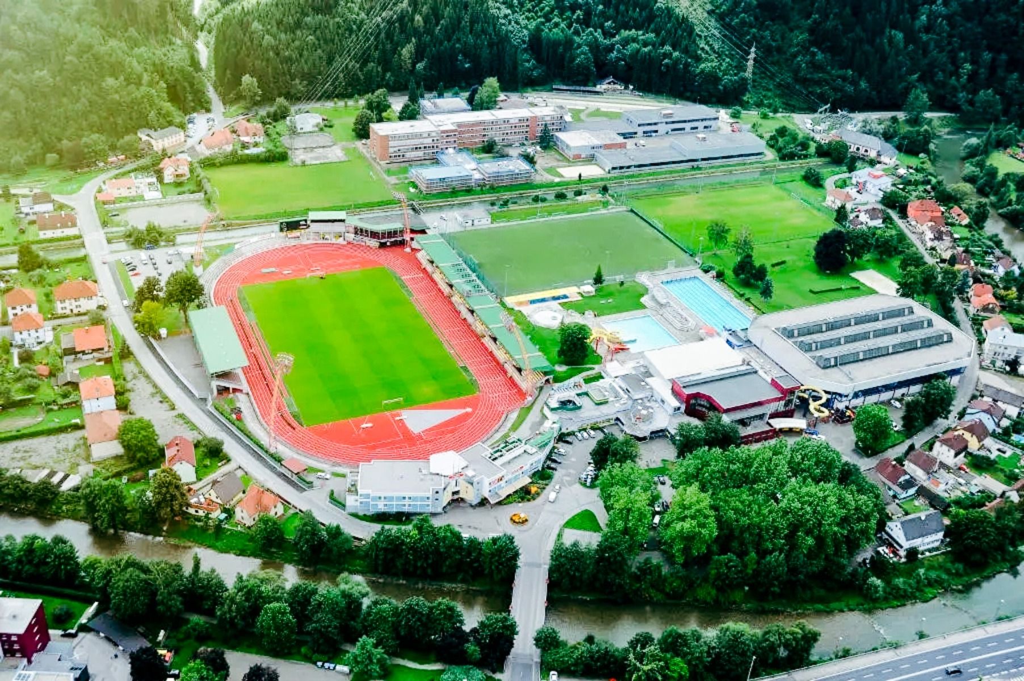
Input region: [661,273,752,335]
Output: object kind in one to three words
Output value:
swimming pool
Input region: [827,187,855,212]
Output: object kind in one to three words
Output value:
house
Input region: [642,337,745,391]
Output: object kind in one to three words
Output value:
building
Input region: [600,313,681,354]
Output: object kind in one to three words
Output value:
swimming pool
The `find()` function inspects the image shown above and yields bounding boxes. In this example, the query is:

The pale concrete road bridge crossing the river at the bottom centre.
[506,556,549,681]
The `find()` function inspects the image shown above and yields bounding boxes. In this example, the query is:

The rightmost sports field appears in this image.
[442,210,695,298]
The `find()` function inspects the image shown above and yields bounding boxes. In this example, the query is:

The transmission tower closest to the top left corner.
[283,95,296,135]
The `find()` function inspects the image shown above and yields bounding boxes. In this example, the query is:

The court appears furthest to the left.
[291,146,348,165]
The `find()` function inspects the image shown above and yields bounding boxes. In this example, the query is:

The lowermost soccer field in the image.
[240,264,479,428]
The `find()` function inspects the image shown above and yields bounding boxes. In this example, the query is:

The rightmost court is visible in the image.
[851,268,898,294]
